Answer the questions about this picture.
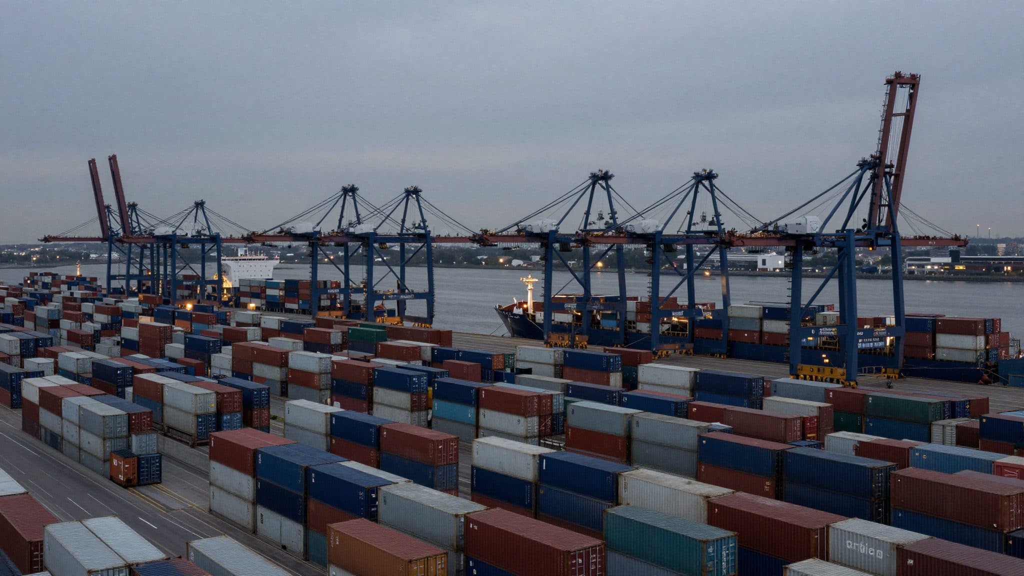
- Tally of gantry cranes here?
8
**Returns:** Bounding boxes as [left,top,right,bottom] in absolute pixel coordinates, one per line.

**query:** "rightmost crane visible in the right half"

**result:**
[713,74,980,385]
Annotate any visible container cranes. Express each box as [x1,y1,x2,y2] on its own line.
[713,74,980,385]
[569,172,787,367]
[337,183,492,330]
[466,170,649,352]
[90,154,174,303]
[36,160,149,296]
[243,182,437,324]
[123,197,255,309]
